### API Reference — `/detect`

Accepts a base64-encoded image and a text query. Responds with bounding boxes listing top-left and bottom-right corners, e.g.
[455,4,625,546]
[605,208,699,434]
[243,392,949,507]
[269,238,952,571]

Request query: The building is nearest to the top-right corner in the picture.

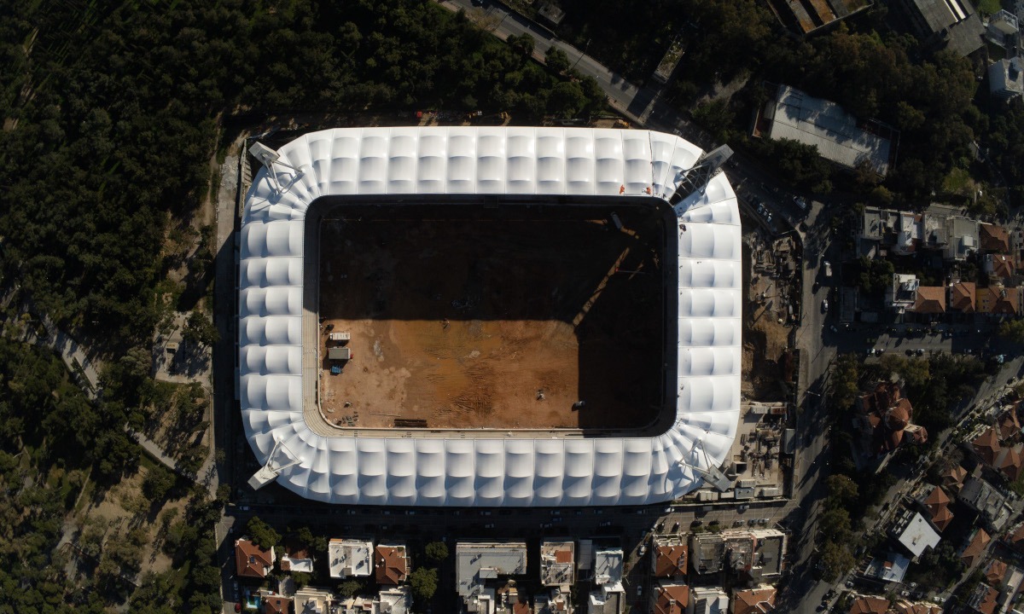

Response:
[983,9,1021,41]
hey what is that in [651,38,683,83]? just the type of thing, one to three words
shed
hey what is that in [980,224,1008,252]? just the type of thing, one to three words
house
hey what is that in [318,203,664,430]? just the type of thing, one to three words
sports field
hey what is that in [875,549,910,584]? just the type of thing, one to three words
building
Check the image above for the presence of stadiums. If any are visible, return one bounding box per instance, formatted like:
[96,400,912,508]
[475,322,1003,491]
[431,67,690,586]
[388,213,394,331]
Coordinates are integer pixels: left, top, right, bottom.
[240,127,741,505]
